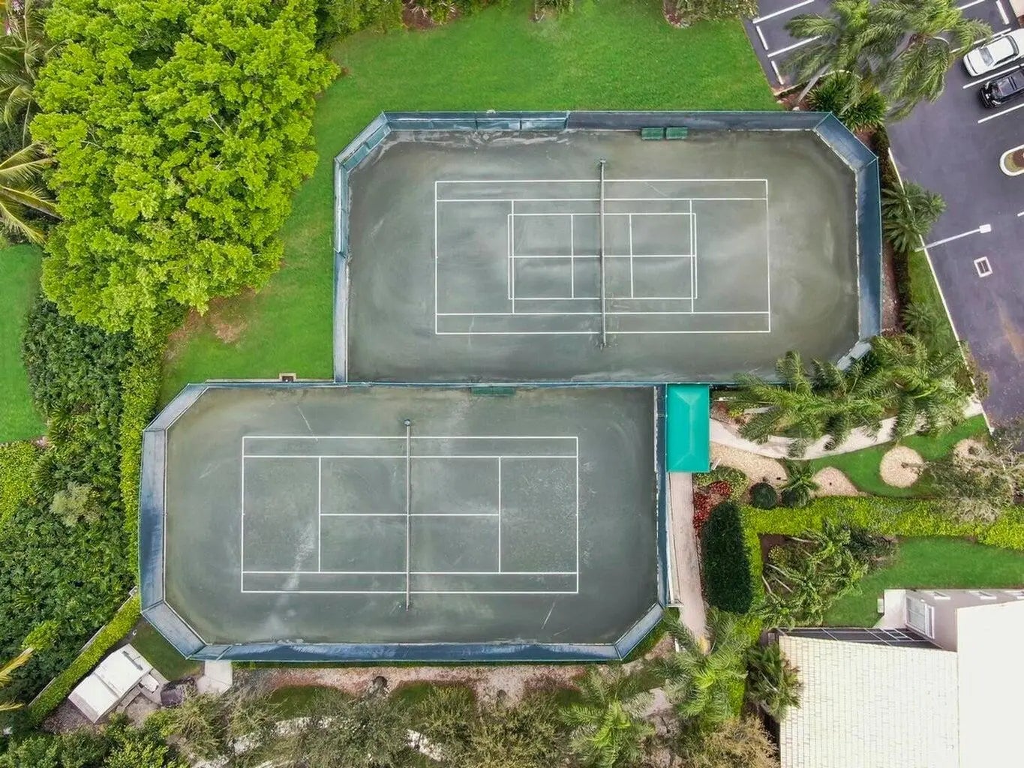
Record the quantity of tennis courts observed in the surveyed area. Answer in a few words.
2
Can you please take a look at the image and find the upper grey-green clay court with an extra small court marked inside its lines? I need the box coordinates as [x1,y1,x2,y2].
[347,129,861,385]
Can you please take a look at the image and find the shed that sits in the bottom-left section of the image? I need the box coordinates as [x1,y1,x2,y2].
[69,643,155,723]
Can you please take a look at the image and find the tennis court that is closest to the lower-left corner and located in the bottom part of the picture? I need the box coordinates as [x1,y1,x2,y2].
[163,387,660,646]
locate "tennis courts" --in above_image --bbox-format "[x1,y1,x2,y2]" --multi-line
[163,387,660,646]
[347,129,861,385]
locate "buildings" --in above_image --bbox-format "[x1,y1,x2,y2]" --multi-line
[69,643,155,723]
[768,587,1024,768]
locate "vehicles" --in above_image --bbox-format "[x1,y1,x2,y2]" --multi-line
[964,36,1024,80]
[980,67,1024,107]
